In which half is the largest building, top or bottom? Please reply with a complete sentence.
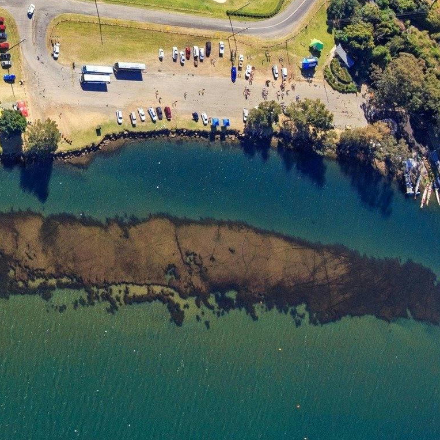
It is in the top half that the largest building appears.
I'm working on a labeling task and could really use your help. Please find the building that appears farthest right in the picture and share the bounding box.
[331,44,356,69]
